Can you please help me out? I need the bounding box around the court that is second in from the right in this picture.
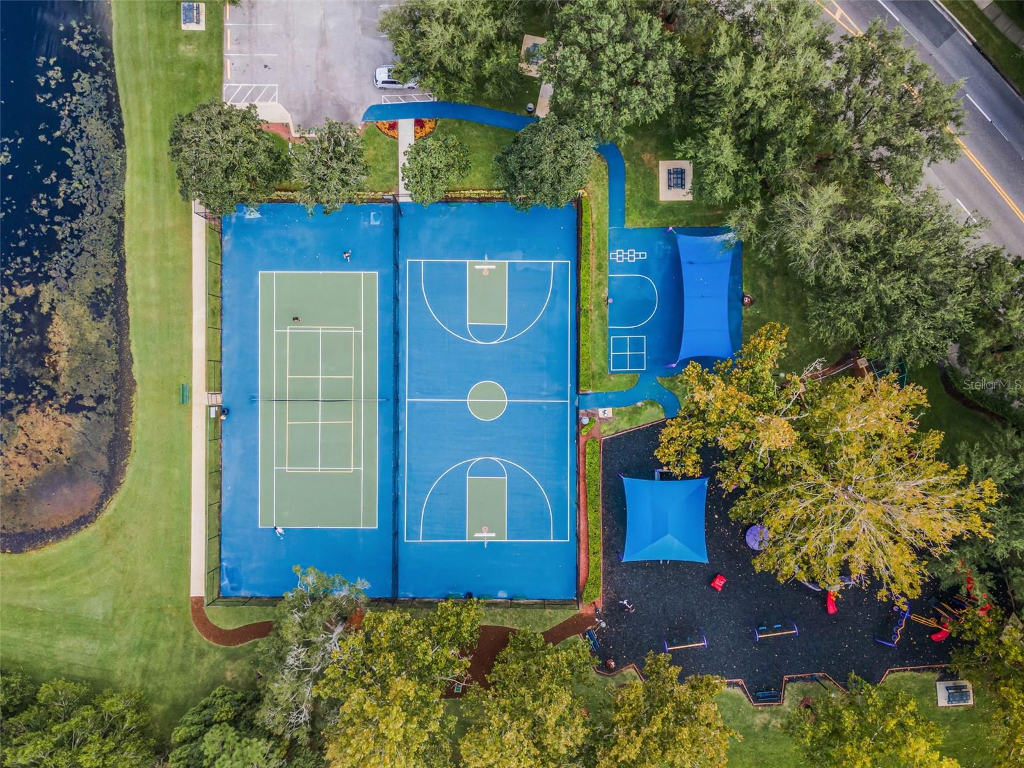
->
[395,203,577,598]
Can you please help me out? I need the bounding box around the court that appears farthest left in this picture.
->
[220,203,398,598]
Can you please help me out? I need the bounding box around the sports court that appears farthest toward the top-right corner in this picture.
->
[609,227,742,374]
